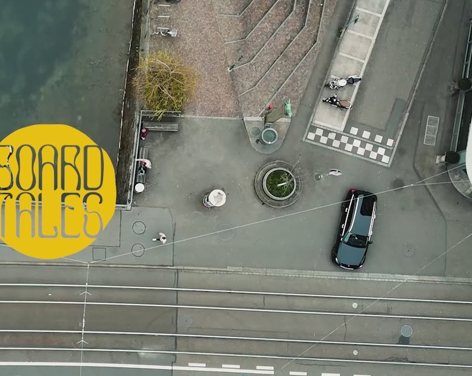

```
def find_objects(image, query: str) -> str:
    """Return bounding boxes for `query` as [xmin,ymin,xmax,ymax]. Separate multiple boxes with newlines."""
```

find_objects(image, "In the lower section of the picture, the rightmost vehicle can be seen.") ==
[334,190,379,268]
